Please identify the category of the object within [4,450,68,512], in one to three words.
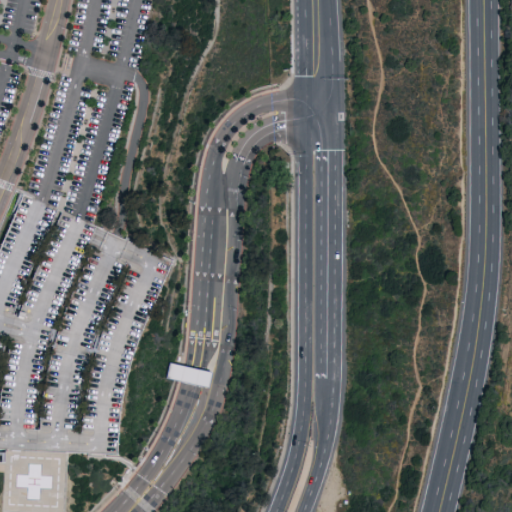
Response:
helipad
